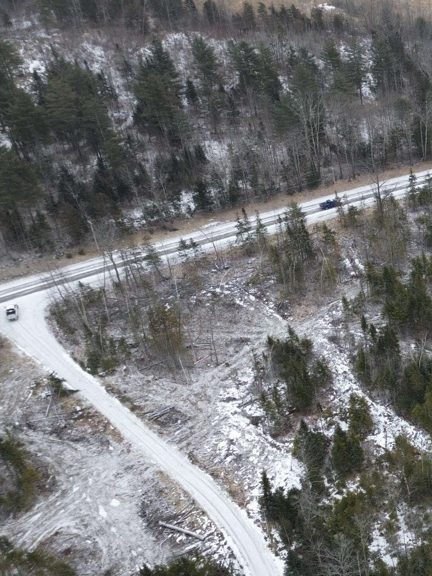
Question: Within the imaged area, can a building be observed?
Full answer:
No, there isn't any building down there.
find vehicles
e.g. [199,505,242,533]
[319,200,342,211]
[2,303,19,319]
